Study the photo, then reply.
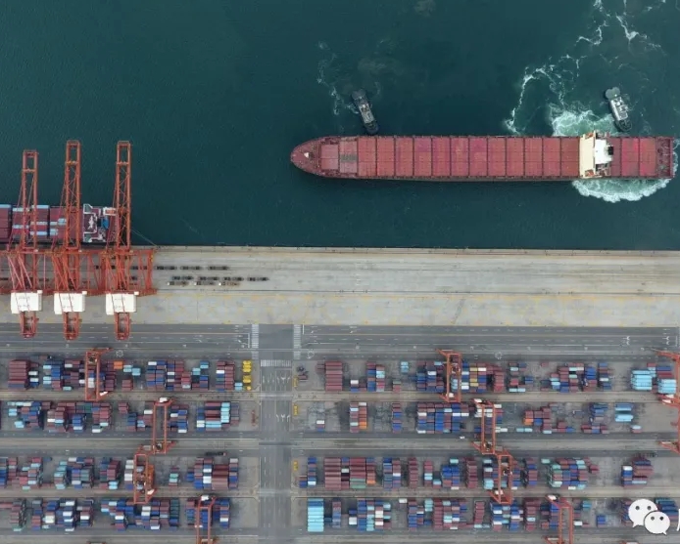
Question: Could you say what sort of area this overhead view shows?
port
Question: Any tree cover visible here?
No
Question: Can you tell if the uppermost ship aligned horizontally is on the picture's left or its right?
right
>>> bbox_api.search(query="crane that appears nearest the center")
[435,348,462,404]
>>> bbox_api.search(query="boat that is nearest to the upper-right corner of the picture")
[602,87,630,132]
